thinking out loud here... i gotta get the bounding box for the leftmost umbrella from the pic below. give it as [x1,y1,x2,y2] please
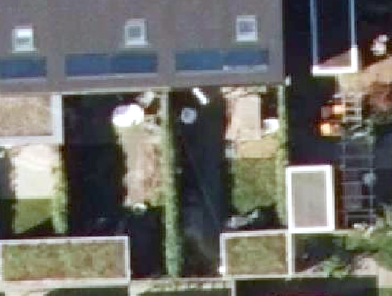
[113,100,143,130]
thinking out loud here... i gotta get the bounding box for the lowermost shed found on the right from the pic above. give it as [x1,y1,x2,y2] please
[217,232,290,276]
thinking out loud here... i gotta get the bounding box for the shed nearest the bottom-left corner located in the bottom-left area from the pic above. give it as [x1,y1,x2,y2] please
[0,235,129,288]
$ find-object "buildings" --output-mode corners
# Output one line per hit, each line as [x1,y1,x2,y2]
[217,232,290,276]
[0,235,129,288]
[0,0,289,145]
[311,0,358,73]
[286,164,335,232]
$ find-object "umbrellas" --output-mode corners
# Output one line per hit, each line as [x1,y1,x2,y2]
[113,100,143,130]
[266,119,278,132]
